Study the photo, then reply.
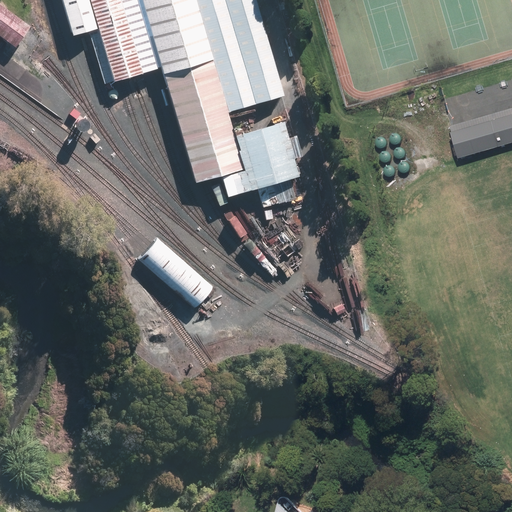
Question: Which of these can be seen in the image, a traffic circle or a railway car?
railway car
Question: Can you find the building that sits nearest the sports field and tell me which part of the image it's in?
top right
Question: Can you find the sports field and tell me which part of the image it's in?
right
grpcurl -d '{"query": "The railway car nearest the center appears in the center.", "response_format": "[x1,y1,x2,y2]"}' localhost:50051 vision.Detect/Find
[244,239,280,276]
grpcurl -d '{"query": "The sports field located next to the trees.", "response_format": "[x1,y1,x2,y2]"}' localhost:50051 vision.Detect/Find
[400,148,512,456]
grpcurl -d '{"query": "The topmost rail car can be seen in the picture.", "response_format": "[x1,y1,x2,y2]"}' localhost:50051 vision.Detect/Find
[213,184,227,206]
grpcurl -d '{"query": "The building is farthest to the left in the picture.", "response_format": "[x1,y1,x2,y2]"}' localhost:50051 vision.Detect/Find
[0,4,31,48]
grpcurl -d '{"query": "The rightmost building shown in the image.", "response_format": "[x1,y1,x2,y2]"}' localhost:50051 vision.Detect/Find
[450,108,512,159]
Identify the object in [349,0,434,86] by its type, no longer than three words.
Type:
tennis court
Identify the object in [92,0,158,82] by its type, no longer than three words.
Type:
building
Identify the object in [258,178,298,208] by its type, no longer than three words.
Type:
shed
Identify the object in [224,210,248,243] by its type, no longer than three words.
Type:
rail car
